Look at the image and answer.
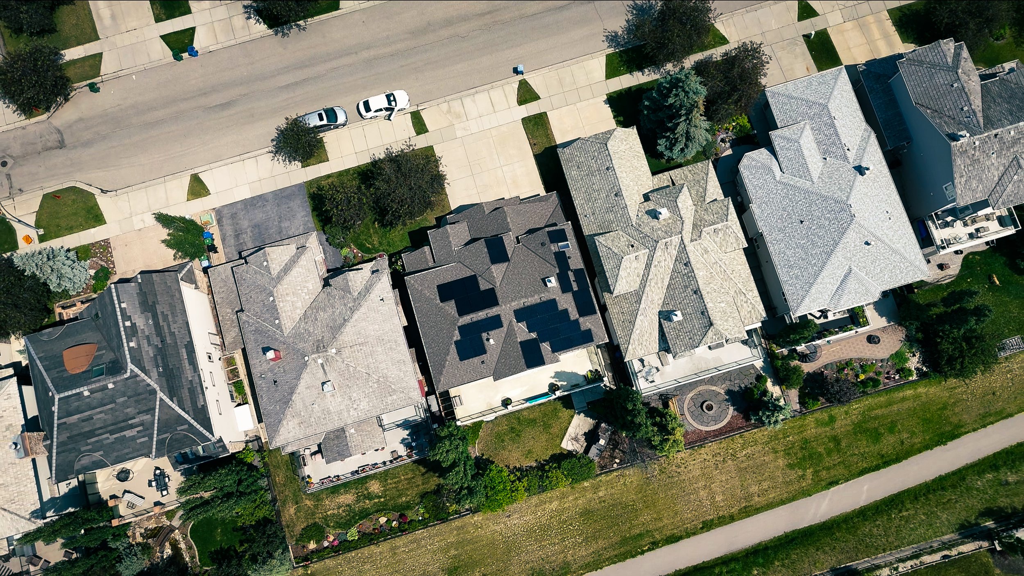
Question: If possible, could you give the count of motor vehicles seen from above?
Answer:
2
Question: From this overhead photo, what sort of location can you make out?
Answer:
residential area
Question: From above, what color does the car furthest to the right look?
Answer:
white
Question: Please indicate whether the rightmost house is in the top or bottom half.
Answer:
top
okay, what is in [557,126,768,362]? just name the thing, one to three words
house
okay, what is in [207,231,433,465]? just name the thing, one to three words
house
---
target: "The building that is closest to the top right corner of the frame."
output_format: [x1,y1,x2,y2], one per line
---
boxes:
[850,38,1024,223]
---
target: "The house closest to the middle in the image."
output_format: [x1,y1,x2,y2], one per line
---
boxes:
[401,191,609,392]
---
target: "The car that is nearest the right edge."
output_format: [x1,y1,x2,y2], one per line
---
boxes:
[356,89,413,125]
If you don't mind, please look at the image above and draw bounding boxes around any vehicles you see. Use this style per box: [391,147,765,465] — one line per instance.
[290,100,354,132]
[356,89,413,125]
